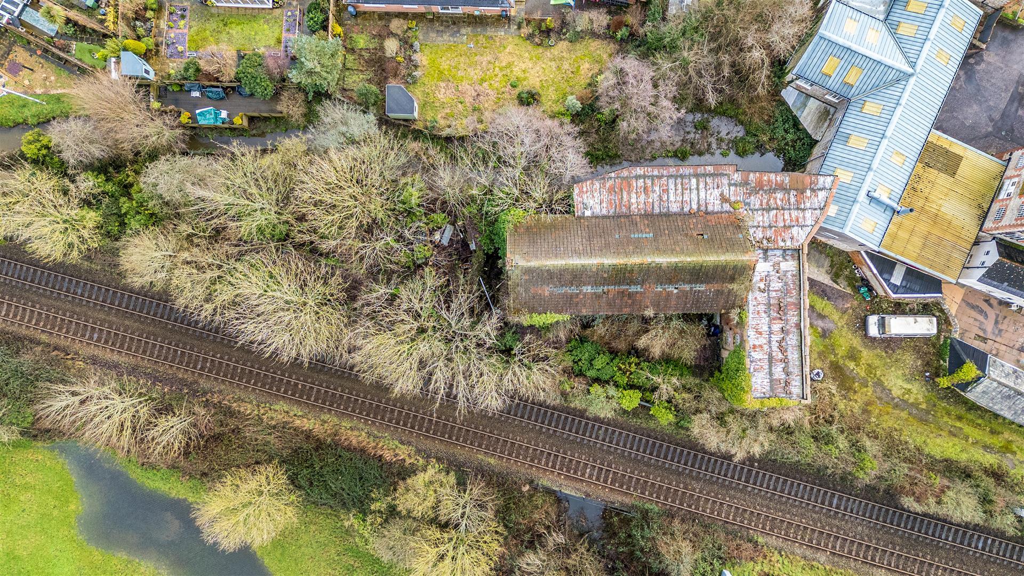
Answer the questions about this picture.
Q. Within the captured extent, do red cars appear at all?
No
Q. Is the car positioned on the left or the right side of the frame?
right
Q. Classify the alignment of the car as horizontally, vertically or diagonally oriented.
horizontally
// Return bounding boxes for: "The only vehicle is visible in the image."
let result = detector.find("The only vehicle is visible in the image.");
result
[861,312,941,339]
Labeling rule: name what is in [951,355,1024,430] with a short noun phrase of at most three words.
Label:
shed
